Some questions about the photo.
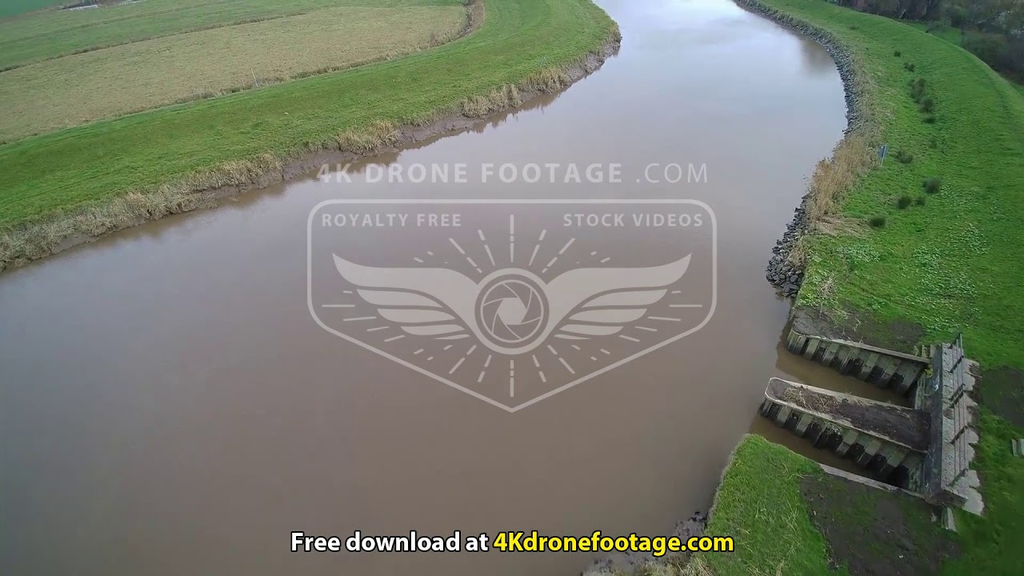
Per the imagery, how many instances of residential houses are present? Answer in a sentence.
The photo contains no residential houses.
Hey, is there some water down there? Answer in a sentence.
Yes, water shows up in the scene.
